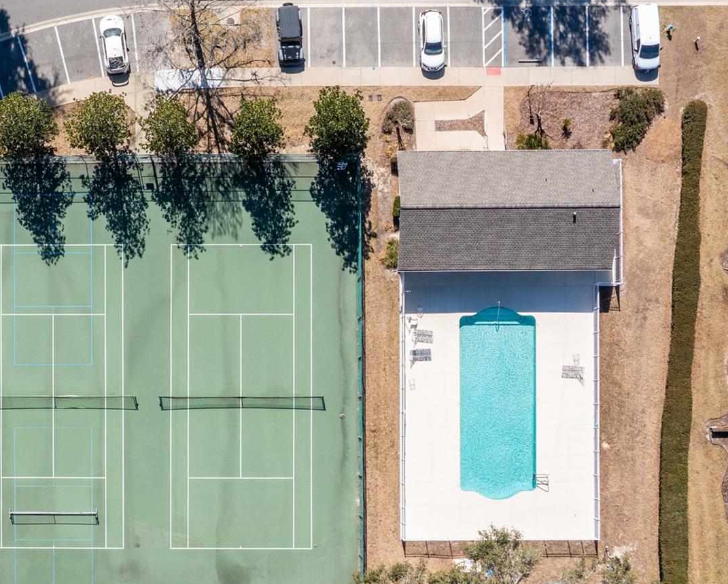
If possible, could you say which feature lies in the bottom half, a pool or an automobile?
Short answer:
pool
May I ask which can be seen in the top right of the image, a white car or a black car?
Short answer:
white car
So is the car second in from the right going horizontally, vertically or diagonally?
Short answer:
vertically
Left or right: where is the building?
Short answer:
right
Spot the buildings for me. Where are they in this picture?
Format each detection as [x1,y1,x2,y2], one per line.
[398,150,620,272]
